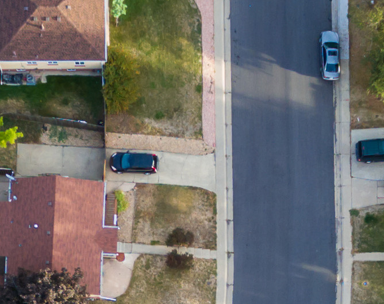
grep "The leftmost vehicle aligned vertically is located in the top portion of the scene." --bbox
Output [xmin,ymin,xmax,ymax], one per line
[319,31,342,81]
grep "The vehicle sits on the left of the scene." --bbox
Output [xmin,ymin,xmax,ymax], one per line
[109,149,159,175]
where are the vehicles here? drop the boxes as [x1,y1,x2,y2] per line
[319,31,342,81]
[109,149,159,175]
[355,139,384,161]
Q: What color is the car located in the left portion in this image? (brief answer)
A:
black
